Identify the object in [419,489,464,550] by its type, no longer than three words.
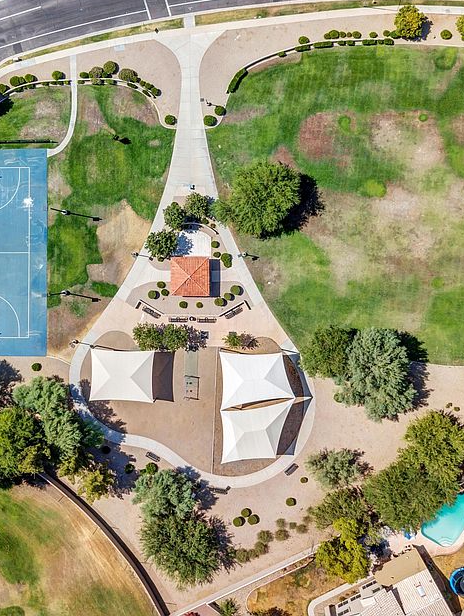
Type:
swimming pool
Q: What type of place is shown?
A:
sports ground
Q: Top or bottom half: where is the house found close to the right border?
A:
bottom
